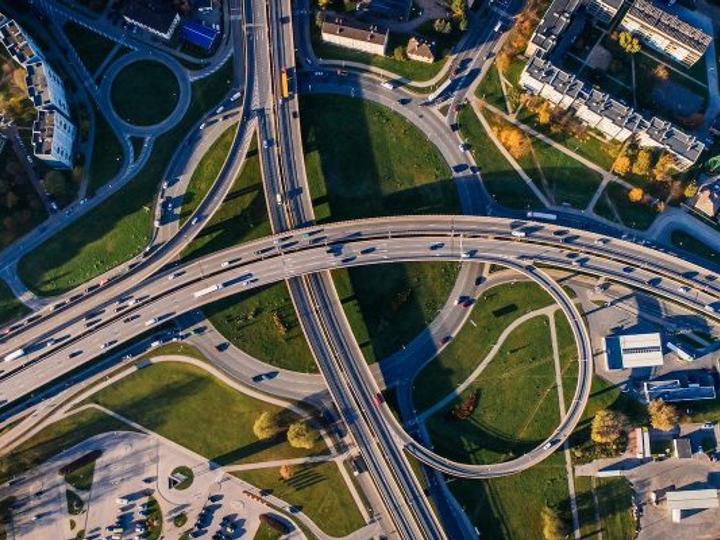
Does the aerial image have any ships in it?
No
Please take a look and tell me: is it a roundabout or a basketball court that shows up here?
roundabout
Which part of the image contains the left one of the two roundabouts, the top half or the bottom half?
top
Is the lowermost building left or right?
right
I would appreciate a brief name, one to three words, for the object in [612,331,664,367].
building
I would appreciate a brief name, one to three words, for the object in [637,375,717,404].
building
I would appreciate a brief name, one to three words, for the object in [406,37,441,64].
house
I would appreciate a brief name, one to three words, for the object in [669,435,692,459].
house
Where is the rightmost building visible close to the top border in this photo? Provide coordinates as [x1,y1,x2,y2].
[612,0,713,77]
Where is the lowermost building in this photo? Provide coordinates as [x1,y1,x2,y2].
[660,484,719,523]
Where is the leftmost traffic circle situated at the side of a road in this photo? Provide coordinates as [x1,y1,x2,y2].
[98,49,191,139]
